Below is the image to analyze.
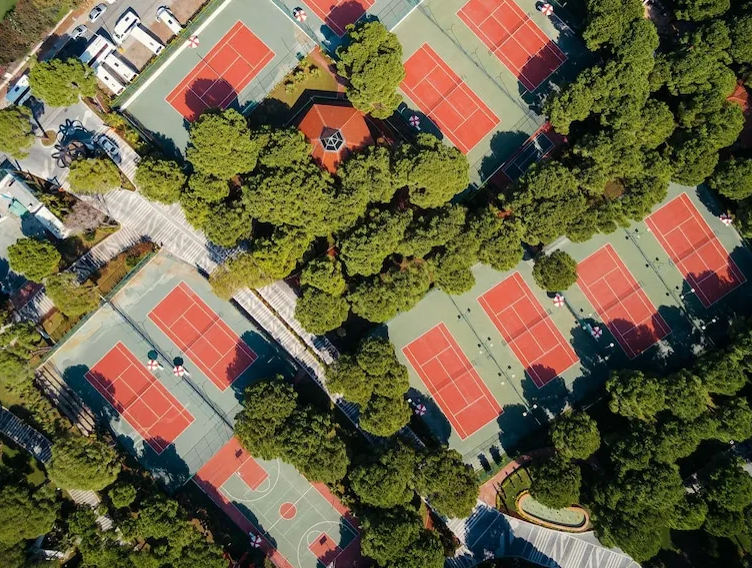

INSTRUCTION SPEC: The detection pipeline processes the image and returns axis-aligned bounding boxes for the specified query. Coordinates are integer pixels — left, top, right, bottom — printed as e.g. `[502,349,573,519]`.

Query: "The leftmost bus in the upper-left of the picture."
[3,73,40,106]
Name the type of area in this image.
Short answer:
sports ground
